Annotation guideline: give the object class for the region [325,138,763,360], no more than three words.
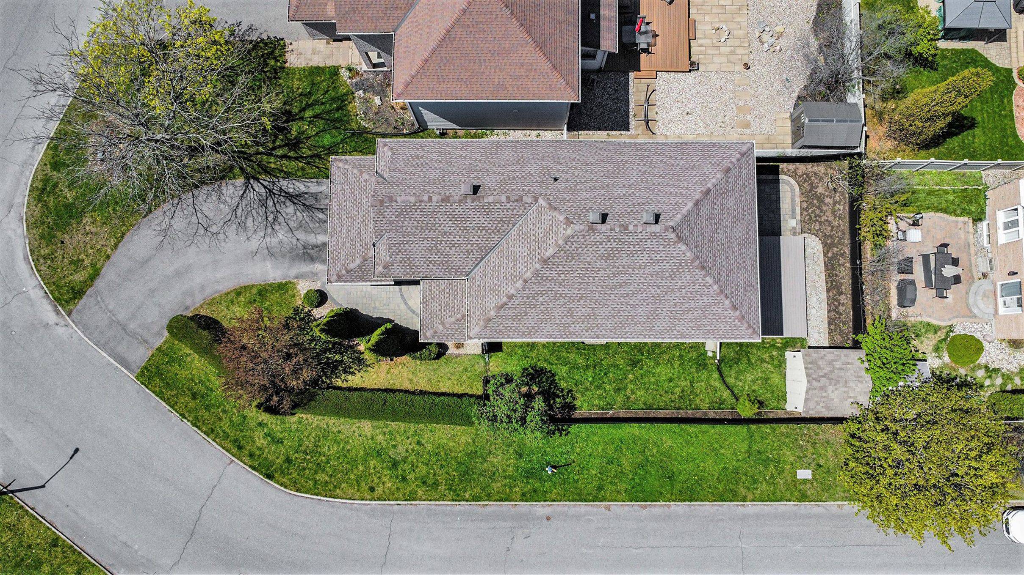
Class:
house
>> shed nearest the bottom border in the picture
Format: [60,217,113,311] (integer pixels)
[786,349,875,417]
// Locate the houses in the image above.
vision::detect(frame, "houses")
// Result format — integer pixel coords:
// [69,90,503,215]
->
[987,177,1024,338]
[325,138,763,360]
[286,0,619,129]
